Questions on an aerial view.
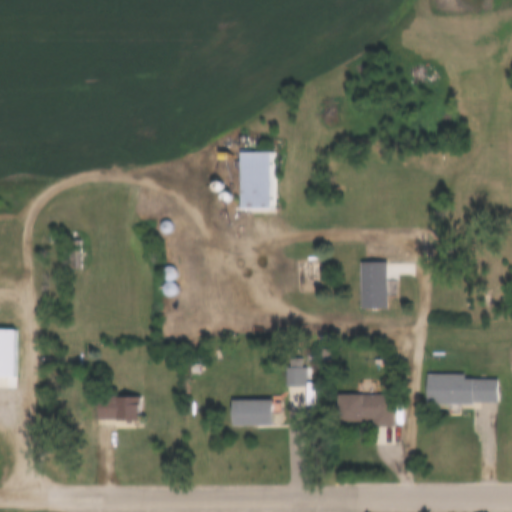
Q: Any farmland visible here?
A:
Yes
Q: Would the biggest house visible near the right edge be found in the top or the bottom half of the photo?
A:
bottom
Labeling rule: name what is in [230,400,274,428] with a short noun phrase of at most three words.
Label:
house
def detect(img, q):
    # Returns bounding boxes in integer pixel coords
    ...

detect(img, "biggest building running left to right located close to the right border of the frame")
[426,373,498,406]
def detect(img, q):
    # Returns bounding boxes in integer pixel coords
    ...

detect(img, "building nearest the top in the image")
[240,152,279,213]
